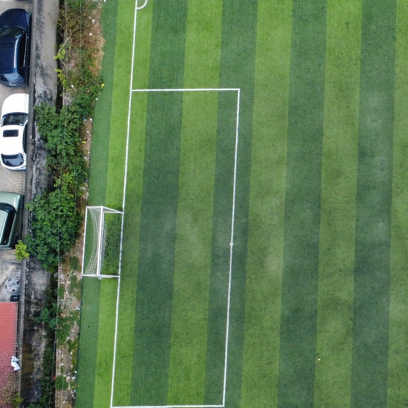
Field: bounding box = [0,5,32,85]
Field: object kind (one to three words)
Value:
car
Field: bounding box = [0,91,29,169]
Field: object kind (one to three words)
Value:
car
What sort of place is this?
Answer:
sports ground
